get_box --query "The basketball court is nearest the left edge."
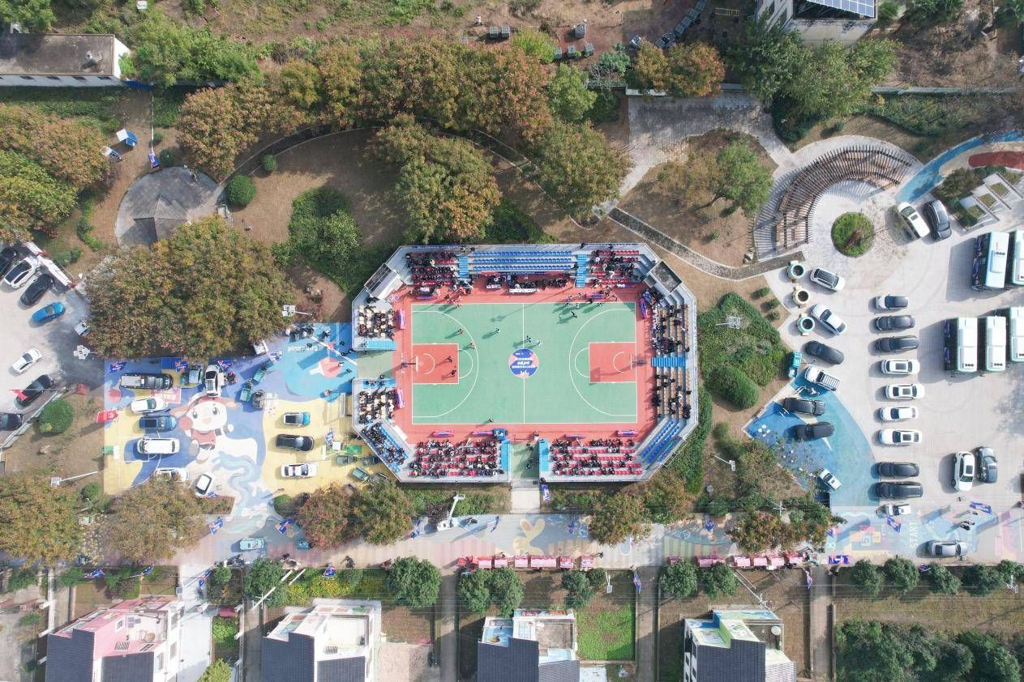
[358,272,653,480]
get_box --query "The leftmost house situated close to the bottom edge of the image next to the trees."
[49,593,178,682]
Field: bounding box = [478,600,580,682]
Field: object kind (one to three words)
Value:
house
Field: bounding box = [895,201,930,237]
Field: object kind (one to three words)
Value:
car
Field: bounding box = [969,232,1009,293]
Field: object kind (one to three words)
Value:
bus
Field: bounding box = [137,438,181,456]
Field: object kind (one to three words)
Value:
vehicle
